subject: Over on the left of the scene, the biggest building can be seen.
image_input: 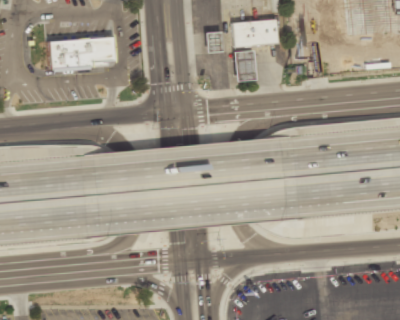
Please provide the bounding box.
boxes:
[50,36,118,72]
